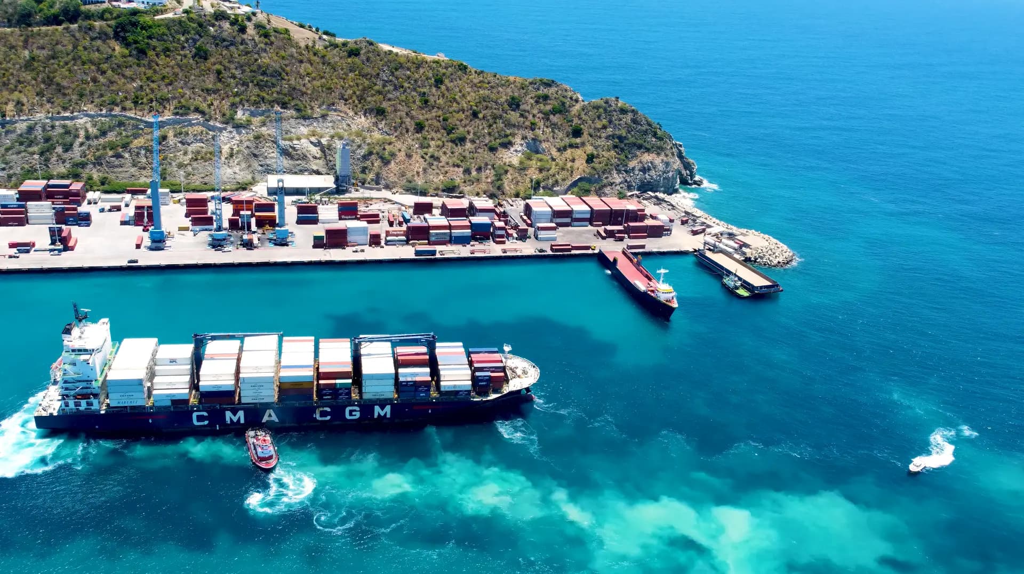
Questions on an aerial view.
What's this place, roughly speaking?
port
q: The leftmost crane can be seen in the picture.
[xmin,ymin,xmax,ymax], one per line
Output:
[142,108,176,248]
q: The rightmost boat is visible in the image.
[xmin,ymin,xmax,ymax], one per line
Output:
[910,458,925,471]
